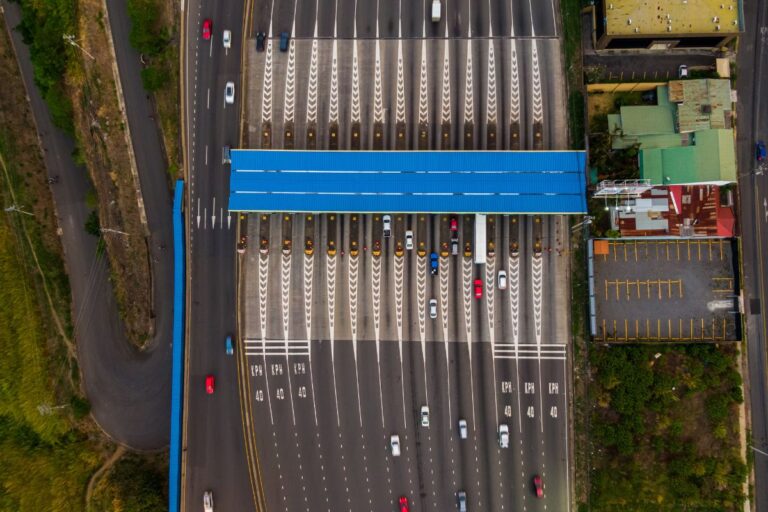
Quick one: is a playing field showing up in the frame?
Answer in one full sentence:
No, this view has no playing field in it.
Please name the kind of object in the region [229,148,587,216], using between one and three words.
toll station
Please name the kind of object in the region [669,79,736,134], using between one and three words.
house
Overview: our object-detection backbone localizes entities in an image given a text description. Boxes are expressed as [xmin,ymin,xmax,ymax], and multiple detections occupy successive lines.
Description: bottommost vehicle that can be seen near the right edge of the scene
[754,142,766,161]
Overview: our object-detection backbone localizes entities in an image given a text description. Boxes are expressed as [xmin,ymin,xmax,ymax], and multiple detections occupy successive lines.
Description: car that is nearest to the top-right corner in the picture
[677,64,689,80]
